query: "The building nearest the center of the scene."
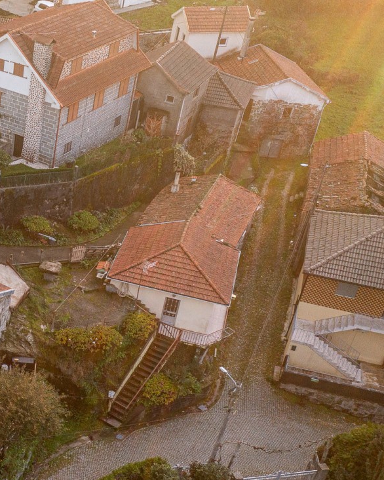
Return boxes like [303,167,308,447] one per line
[106,160,261,362]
